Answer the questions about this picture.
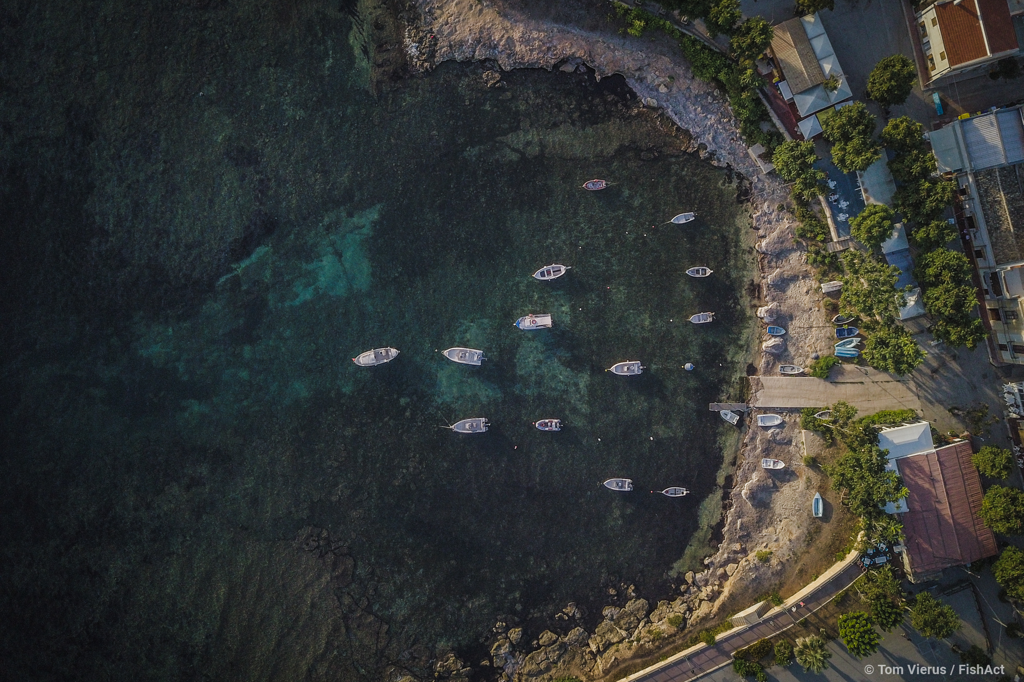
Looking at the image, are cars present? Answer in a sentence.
No, the frame has no car in it.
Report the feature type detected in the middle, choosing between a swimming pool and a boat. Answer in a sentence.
There is a boat in the middle.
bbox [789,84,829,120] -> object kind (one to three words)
tent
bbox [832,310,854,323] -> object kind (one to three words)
boat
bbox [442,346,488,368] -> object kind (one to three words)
boat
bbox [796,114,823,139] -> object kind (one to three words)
tent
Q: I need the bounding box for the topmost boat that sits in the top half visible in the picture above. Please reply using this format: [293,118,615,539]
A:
[582,179,612,191]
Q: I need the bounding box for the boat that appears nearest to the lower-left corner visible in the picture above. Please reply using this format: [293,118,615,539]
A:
[348,345,400,367]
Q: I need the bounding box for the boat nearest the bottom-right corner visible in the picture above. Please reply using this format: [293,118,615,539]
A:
[813,493,825,518]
